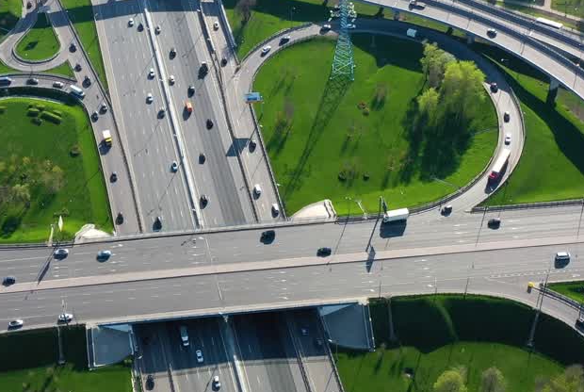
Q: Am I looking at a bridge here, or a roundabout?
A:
bridge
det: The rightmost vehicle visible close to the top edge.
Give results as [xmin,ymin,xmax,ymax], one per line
[535,14,564,32]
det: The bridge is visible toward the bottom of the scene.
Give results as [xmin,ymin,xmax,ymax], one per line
[85,214,377,327]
